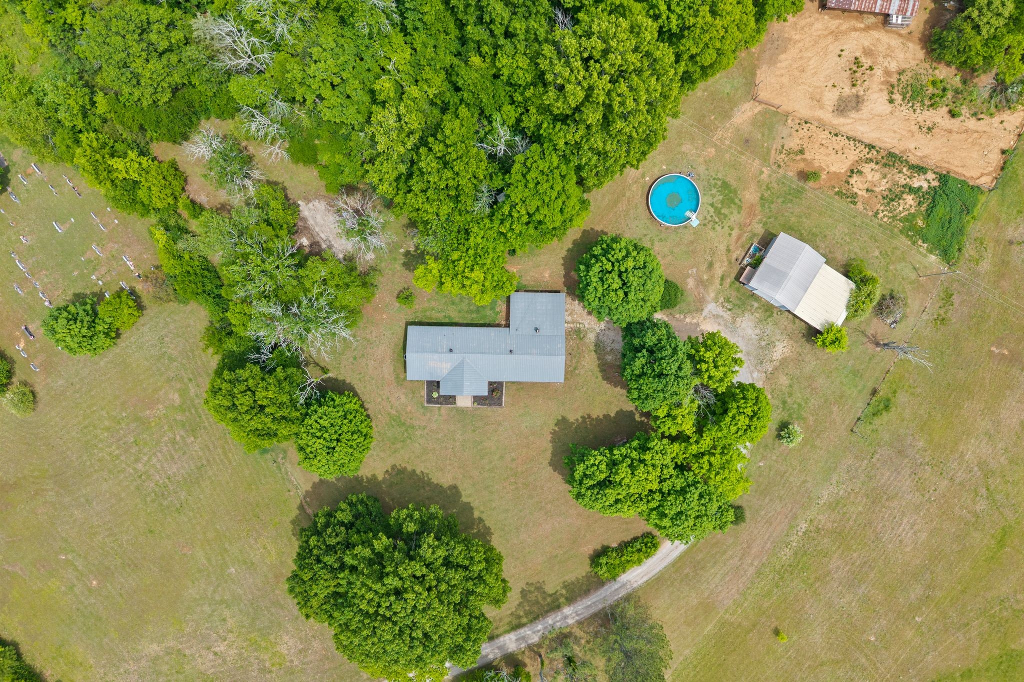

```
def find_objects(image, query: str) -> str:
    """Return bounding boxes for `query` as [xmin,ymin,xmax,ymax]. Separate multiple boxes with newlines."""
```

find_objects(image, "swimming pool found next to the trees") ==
[647,174,700,227]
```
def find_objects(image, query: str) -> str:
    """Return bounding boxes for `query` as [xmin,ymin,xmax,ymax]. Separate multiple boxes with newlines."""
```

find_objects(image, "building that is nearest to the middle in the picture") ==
[406,293,565,396]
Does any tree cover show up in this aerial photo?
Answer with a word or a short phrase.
Yes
